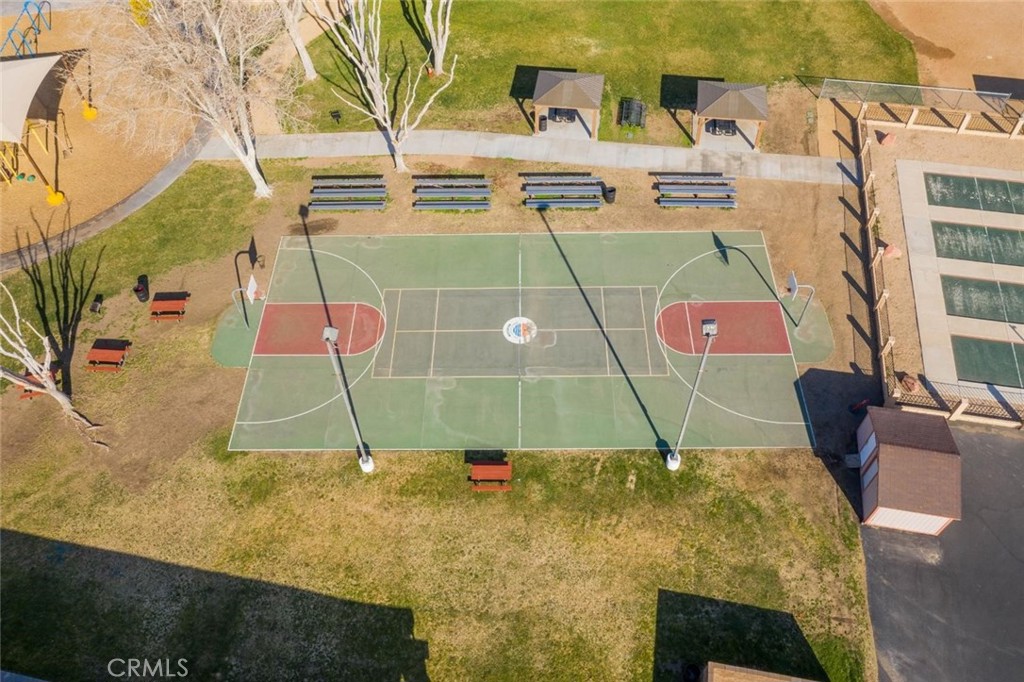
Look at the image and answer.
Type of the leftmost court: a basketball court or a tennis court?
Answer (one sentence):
I'd identify the leftmost court as a basketball court.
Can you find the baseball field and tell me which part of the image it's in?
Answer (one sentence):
Look in the top right portion of the view to spot the baseball field.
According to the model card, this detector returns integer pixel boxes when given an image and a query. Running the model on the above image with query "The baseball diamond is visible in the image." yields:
[867,0,1024,107]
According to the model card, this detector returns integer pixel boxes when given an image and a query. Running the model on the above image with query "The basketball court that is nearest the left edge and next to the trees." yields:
[210,232,833,451]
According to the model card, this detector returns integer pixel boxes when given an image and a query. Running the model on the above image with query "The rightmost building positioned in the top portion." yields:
[692,78,769,152]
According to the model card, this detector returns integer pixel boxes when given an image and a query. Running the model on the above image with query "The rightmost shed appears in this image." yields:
[837,402,963,536]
